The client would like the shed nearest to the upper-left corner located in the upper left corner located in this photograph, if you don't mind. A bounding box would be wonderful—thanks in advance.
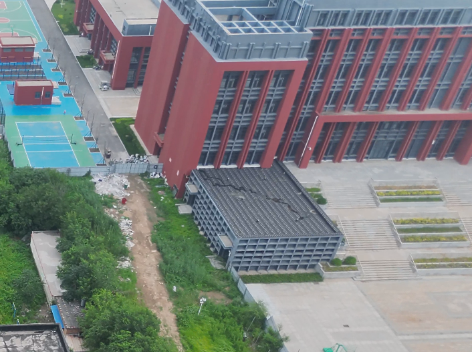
[0,34,45,63]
